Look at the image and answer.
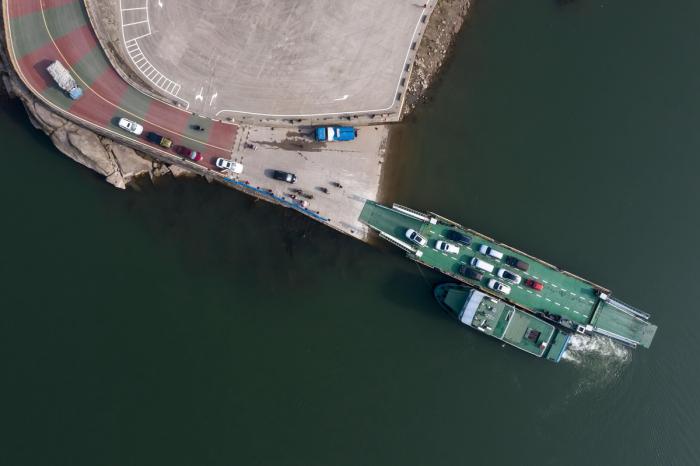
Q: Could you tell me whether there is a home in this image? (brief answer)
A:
No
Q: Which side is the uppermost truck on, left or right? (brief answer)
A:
left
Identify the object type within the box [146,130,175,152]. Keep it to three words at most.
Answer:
truck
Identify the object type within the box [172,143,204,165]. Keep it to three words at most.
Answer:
truck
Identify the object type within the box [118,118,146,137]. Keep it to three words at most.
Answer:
car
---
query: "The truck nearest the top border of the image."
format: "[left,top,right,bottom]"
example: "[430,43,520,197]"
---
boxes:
[49,63,88,102]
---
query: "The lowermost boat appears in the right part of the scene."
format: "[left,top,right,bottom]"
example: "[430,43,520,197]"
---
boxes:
[434,284,571,362]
